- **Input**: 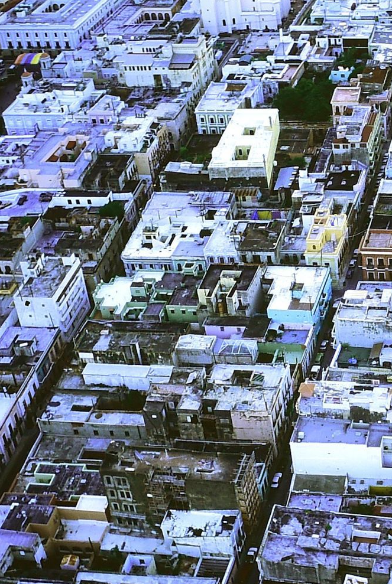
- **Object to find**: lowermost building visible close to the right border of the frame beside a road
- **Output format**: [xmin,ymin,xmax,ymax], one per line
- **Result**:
[257,504,392,584]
